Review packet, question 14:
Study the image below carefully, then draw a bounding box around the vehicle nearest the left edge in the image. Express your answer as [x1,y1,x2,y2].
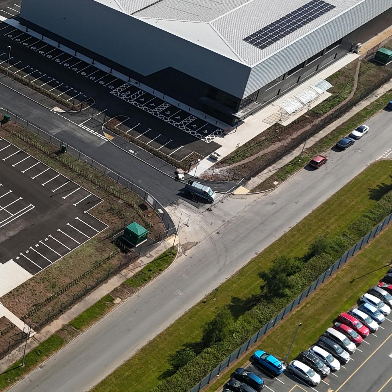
[186,180,215,203]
